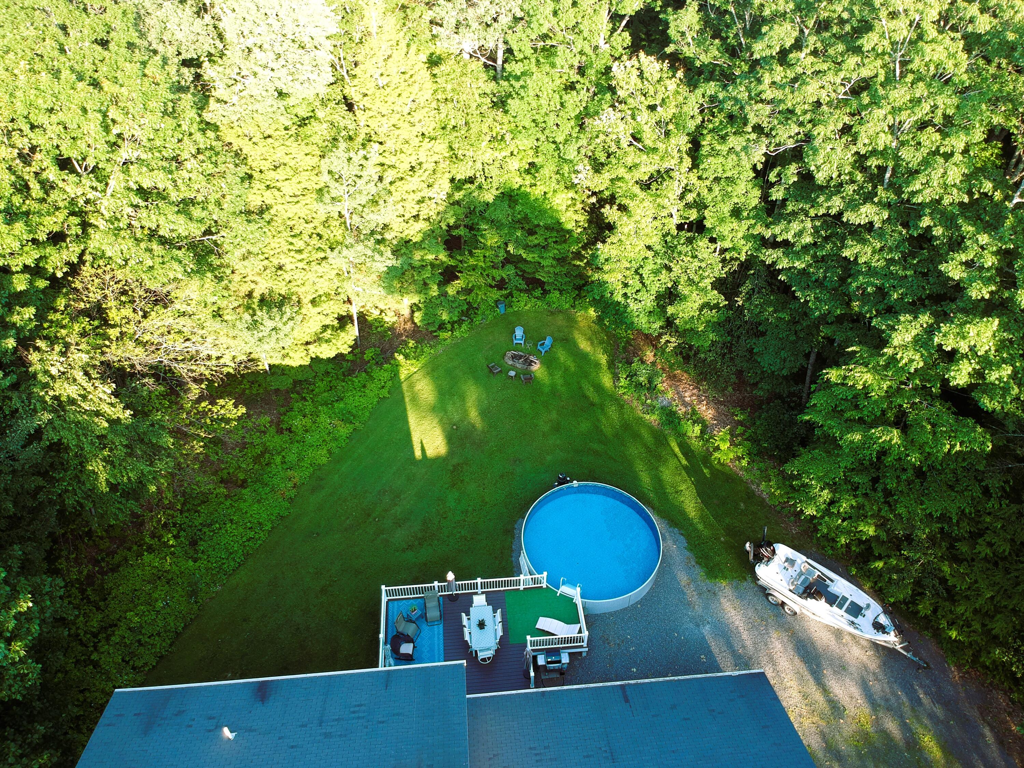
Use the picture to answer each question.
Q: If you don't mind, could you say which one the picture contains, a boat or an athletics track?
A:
boat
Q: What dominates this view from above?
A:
trees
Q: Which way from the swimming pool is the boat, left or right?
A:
right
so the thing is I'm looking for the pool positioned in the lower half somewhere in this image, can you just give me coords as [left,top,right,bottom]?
[521,480,662,618]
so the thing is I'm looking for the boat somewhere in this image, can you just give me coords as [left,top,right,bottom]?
[741,525,903,642]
